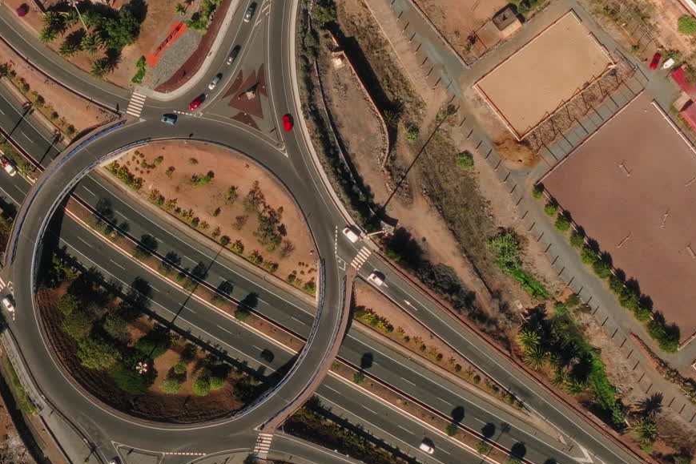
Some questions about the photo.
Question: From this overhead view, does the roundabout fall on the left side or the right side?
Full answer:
It is on the left.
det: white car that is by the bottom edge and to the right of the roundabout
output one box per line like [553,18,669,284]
[420,441,436,455]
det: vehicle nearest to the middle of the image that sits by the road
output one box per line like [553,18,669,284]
[343,226,362,245]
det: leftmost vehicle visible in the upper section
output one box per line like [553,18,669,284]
[0,155,17,176]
